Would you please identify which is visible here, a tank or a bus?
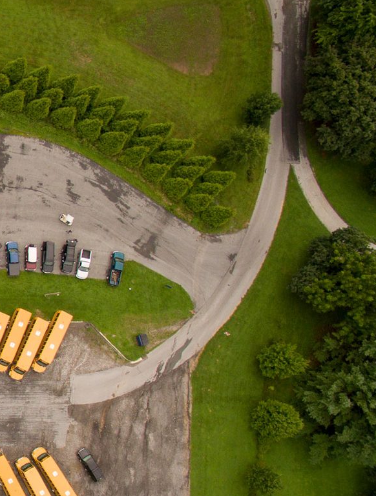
bus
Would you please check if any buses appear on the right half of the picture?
No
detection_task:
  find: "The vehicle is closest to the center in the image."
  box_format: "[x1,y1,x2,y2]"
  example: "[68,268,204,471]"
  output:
[107,251,125,287]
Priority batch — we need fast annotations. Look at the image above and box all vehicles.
[9,317,48,382]
[16,455,51,496]
[59,215,77,226]
[41,241,56,274]
[60,246,77,274]
[0,308,30,375]
[107,251,125,287]
[32,445,76,496]
[77,446,105,484]
[0,448,25,496]
[66,237,77,247]
[25,246,39,271]
[75,249,92,280]
[6,241,20,277]
[31,310,72,376]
